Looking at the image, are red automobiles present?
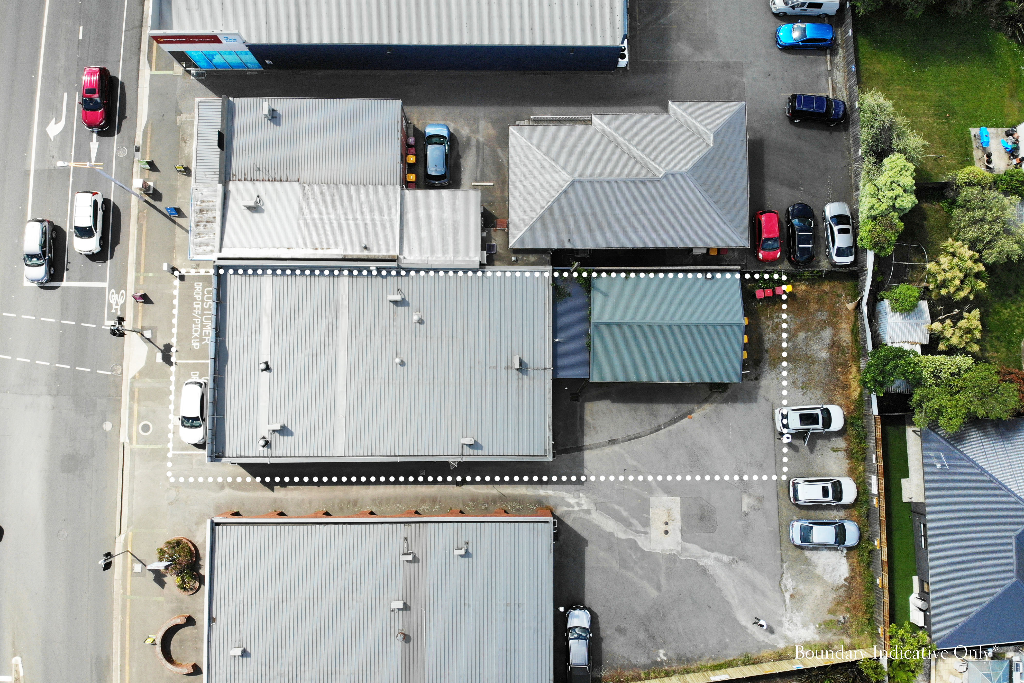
Yes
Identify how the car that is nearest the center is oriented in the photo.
up and down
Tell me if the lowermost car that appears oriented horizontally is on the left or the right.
right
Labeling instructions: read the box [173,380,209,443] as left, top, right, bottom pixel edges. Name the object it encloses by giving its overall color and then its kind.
white car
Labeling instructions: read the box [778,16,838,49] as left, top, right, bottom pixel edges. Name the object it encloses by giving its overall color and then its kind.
blue car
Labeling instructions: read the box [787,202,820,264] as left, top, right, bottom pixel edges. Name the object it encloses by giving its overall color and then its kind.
black car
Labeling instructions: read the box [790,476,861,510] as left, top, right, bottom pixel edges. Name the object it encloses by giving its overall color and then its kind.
white car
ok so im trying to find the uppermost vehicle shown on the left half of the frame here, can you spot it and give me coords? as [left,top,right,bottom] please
[74,66,111,129]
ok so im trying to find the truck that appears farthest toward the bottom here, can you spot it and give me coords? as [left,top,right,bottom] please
[563,603,596,683]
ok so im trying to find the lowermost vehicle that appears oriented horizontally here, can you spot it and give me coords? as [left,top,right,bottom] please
[790,519,863,552]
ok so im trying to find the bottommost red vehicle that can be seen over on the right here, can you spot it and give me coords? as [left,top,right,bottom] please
[756,209,787,262]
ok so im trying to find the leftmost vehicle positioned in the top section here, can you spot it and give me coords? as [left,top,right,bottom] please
[14,218,55,284]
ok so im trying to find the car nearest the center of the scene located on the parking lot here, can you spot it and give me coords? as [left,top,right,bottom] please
[420,123,451,184]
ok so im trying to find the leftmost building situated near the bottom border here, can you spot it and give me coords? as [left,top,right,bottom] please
[201,510,559,683]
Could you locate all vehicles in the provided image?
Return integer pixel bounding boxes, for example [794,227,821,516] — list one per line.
[777,402,848,447]
[778,16,838,49]
[74,66,111,129]
[14,218,55,284]
[788,91,850,125]
[823,201,858,264]
[65,190,105,254]
[756,209,787,262]
[790,519,863,552]
[420,123,451,184]
[563,603,596,683]
[787,202,820,264]
[173,380,209,443]
[790,476,861,510]
[773,0,845,16]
